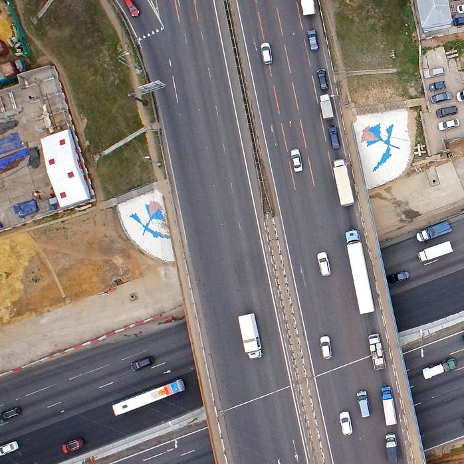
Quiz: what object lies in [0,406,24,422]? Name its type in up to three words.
car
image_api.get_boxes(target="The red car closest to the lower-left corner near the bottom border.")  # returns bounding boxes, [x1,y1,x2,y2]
[60,437,86,454]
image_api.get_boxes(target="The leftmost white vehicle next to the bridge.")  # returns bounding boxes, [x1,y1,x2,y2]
[111,375,191,417]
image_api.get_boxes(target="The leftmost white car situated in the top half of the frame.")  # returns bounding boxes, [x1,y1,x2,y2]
[261,43,273,65]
